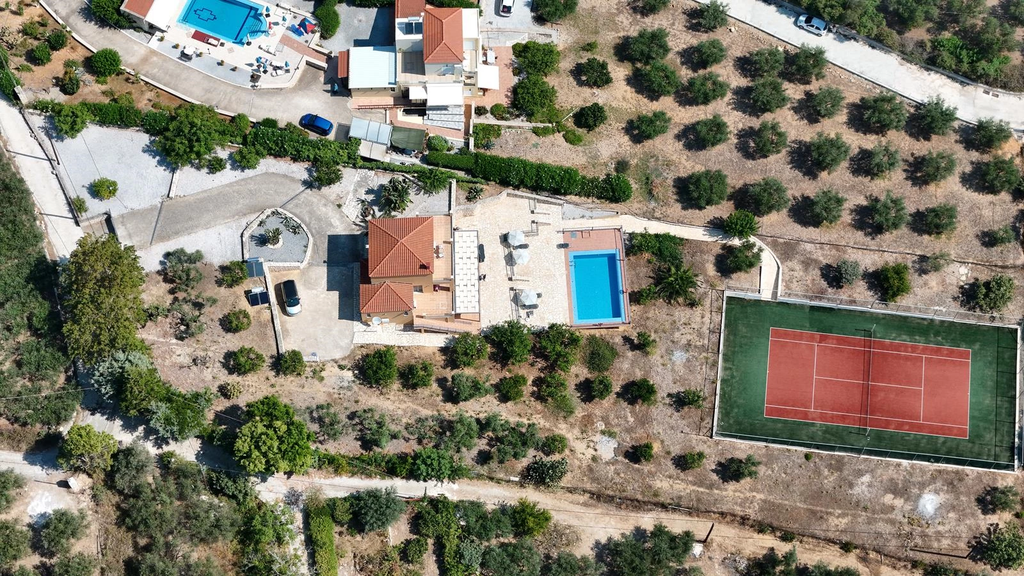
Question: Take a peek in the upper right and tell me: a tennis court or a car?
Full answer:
Looking in the upper right, you will find a car.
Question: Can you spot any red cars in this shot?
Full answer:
No, there's no red car here.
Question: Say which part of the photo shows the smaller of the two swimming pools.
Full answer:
The smaller of the two swimming pools is located in the center region of the scene.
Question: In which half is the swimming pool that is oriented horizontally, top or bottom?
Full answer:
The swimming pool that is oriented horizontally is in the top half of the image.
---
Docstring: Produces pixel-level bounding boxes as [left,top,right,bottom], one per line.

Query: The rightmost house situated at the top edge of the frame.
[338,0,499,130]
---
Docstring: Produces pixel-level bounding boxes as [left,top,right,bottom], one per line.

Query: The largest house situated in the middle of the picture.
[359,215,481,337]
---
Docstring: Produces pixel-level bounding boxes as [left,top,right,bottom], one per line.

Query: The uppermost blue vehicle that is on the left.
[300,114,334,136]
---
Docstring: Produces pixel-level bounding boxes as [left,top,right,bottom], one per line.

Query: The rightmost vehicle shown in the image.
[796,15,829,36]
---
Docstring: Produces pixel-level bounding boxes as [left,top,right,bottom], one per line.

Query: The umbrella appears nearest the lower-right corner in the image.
[519,288,537,306]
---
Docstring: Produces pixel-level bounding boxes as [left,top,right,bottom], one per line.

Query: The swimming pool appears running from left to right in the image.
[150,0,329,87]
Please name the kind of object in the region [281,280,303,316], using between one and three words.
car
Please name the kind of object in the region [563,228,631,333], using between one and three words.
swimming pool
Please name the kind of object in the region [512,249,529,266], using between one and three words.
umbrella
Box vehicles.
[281,280,303,316]
[796,15,829,36]
[300,114,334,136]
[500,0,515,17]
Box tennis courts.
[712,291,1020,472]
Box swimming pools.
[150,0,329,87]
[563,228,631,333]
